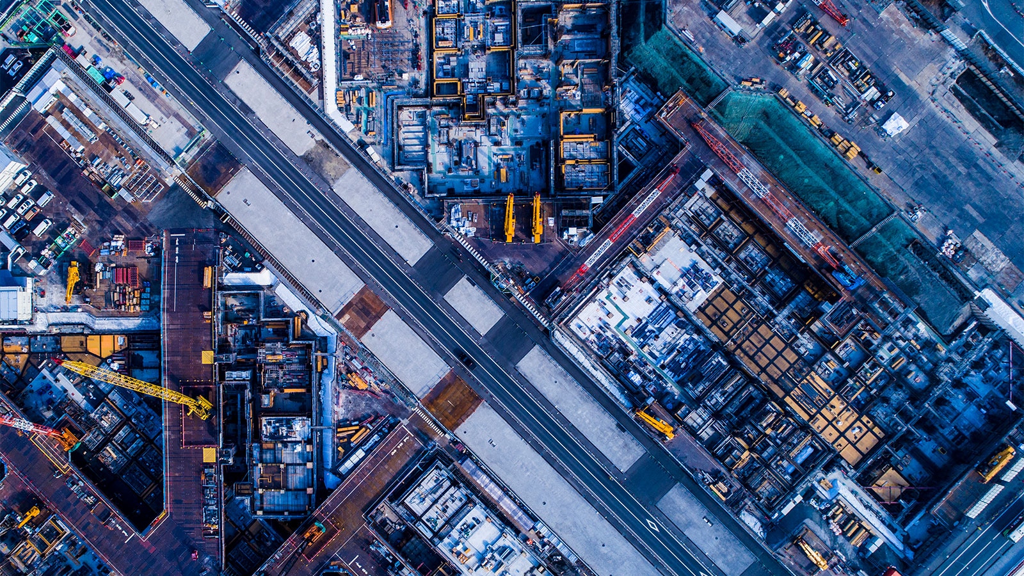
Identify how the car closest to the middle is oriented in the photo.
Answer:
on a diagonal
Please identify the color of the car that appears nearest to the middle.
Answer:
black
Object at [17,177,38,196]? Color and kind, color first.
white vehicle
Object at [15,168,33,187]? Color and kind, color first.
white vehicle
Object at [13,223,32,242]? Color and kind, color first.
black car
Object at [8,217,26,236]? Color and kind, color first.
blue car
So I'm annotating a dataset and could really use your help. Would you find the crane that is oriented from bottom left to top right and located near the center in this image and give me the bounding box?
[529,166,680,319]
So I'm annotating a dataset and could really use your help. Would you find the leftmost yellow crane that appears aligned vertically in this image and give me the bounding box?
[61,261,83,305]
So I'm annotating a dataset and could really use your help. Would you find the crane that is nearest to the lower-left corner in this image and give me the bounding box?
[0,416,90,457]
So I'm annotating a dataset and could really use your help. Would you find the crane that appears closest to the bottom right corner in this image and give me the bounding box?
[981,449,1019,482]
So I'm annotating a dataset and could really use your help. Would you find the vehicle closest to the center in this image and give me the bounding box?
[454,350,476,372]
